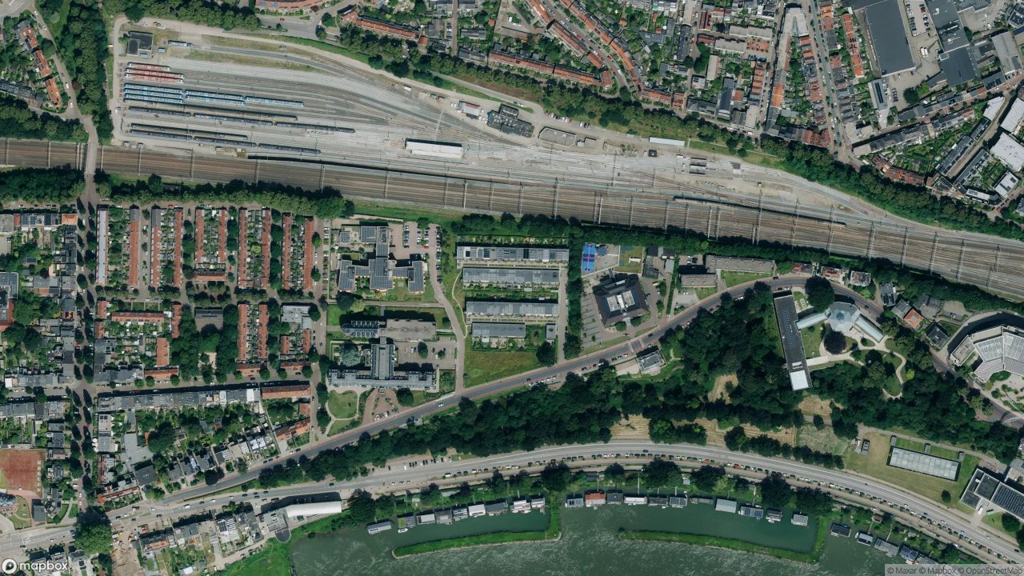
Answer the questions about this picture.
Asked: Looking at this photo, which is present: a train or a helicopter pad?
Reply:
train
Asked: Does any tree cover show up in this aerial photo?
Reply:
Yes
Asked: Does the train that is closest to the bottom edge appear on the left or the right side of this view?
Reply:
right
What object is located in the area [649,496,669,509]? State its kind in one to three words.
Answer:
boat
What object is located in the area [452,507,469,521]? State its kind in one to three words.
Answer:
boat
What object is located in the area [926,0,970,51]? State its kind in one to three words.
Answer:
building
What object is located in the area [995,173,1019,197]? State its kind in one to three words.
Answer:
house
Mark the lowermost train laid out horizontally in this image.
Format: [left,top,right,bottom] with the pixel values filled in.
[675,198,846,227]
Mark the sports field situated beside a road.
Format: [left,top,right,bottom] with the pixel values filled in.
[0,448,46,523]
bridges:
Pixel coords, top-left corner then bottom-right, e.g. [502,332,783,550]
[85,114,97,189]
